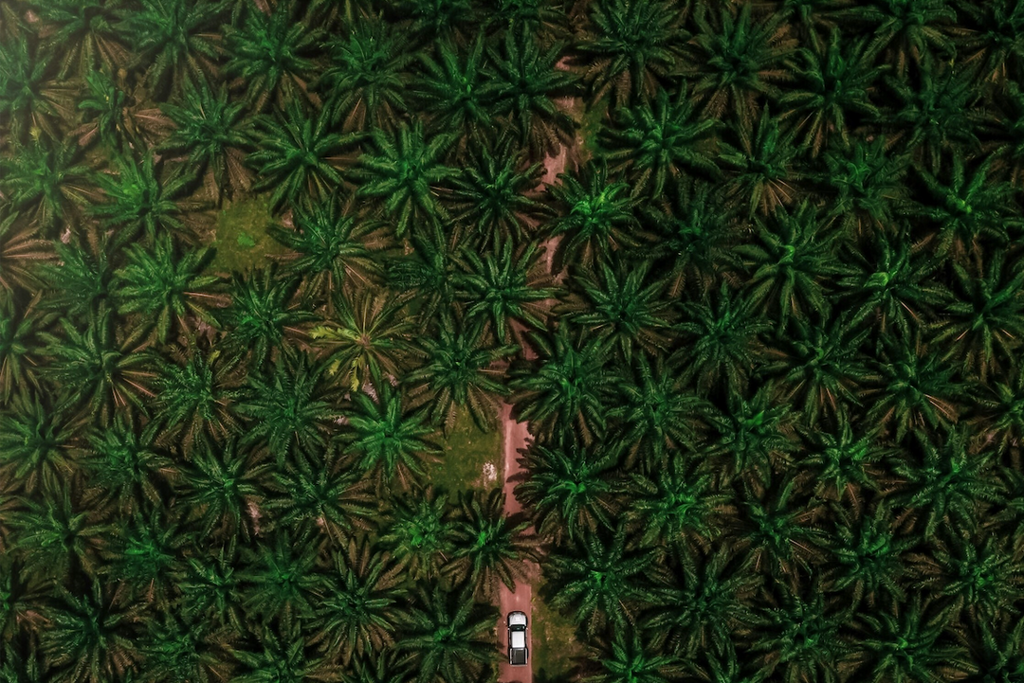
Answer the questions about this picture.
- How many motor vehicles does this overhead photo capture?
1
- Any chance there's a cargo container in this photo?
No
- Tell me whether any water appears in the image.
No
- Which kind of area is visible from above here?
forest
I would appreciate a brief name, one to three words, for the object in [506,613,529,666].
truck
